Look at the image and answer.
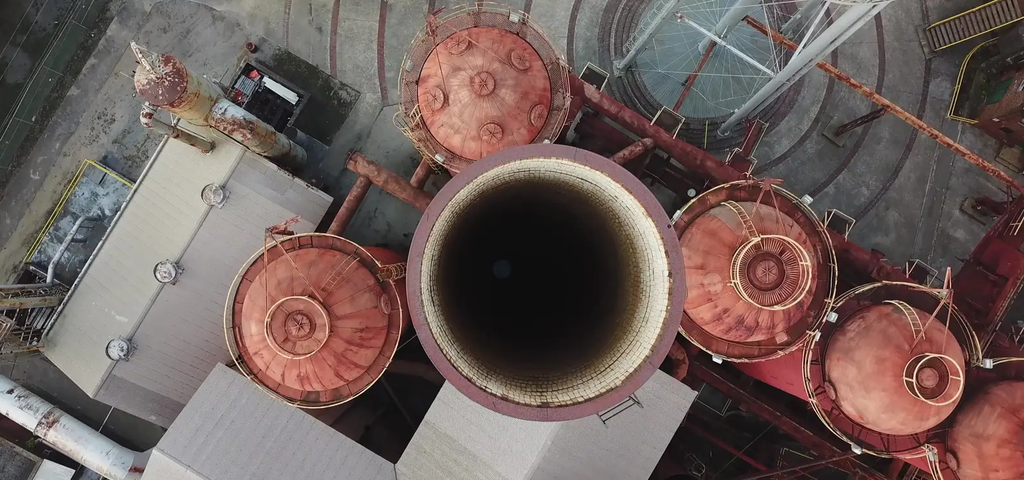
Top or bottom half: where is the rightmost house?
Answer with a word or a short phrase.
top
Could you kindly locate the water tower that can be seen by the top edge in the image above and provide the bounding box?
[607,0,871,141]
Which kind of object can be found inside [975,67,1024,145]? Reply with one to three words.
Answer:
house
